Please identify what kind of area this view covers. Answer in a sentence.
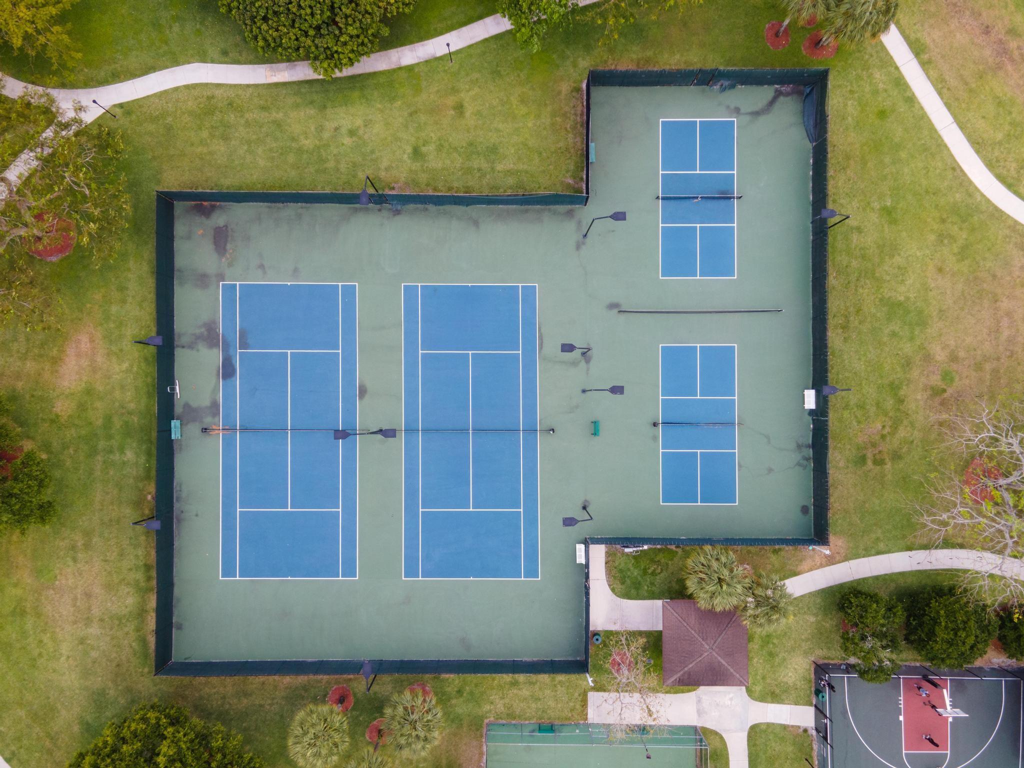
What you see here is a sports ground.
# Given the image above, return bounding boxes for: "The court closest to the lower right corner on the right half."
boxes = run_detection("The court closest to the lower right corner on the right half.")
[814,663,1024,768]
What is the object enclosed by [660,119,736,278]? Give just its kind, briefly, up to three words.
sports court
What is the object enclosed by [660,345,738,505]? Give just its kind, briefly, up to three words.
sports court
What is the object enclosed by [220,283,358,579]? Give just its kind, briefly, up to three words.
tennis court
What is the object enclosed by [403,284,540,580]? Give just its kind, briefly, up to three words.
tennis court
